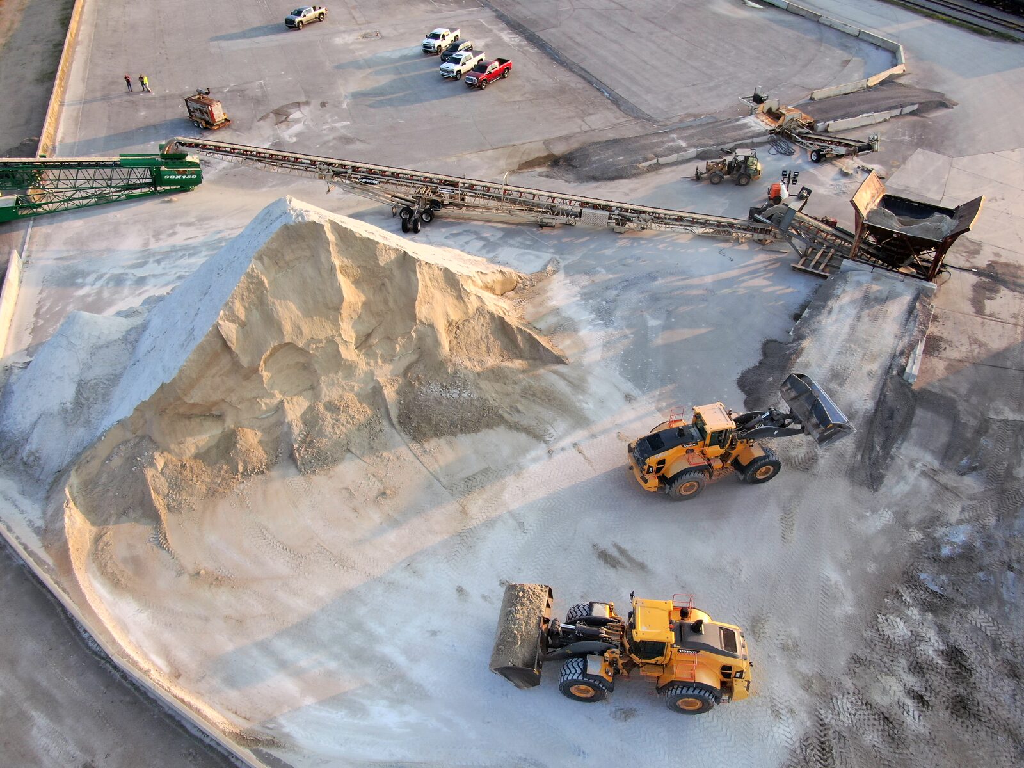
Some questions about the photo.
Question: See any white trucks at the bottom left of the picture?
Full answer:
No, there's no white truck to be seen at the bottom left of the picture.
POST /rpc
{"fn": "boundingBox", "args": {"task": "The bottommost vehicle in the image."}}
[484,587,754,723]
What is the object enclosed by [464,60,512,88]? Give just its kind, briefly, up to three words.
truck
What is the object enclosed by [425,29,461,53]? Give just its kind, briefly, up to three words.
truck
